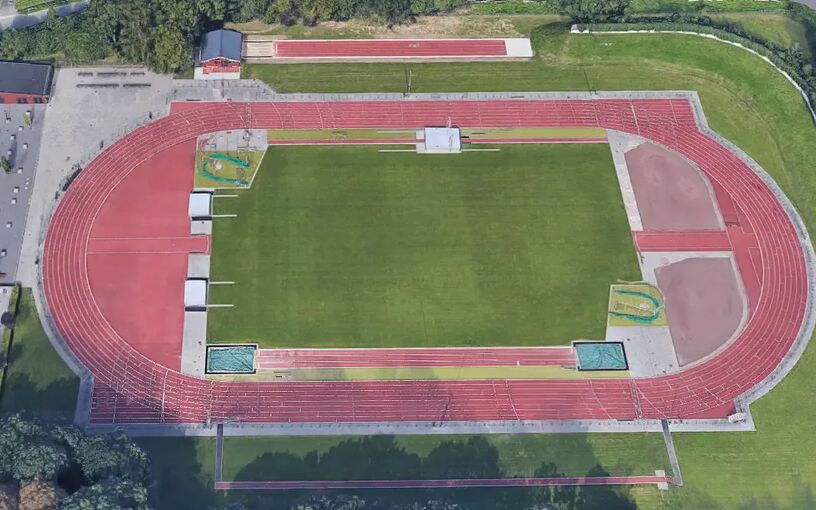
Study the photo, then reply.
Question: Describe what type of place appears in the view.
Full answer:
This image shows a sports ground.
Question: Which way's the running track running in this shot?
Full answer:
What the image shows is the running track lying from left to right.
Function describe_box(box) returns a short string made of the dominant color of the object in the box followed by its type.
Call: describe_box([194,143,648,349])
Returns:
green sports field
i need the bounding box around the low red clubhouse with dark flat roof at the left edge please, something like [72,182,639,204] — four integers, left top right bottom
[0,61,53,103]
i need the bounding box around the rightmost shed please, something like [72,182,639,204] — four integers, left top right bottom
[199,27,241,75]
